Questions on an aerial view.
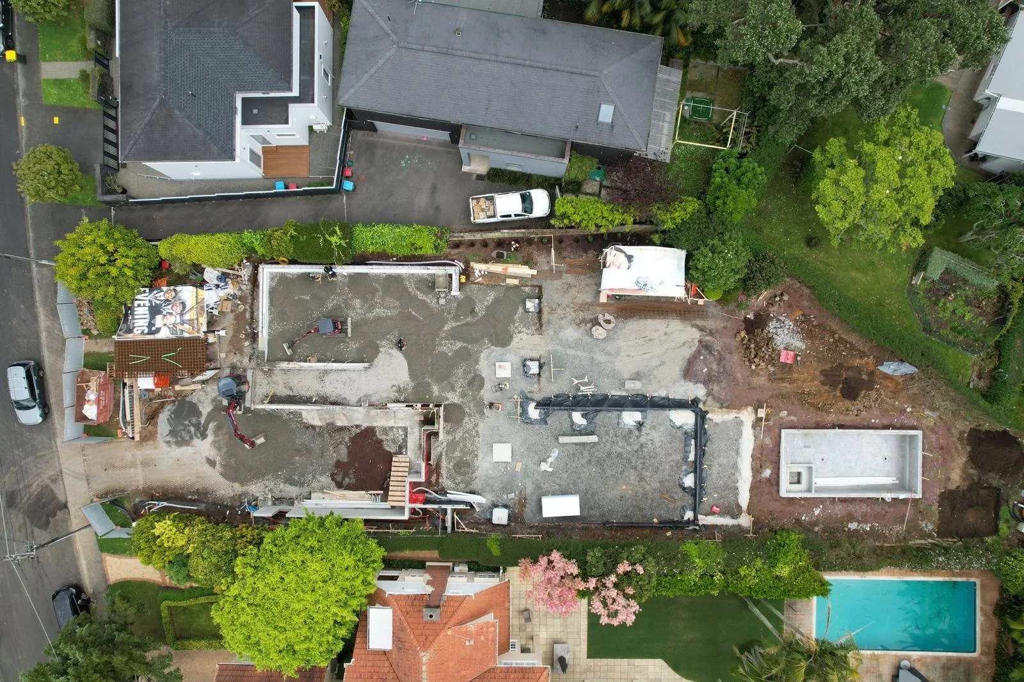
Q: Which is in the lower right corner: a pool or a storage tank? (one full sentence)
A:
There is a pool in the lower right corner.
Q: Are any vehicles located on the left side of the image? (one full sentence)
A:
Yes, on the left side of the image there is a vehicle.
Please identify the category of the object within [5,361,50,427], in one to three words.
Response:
car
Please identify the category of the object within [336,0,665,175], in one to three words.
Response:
house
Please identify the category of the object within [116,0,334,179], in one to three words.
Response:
house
